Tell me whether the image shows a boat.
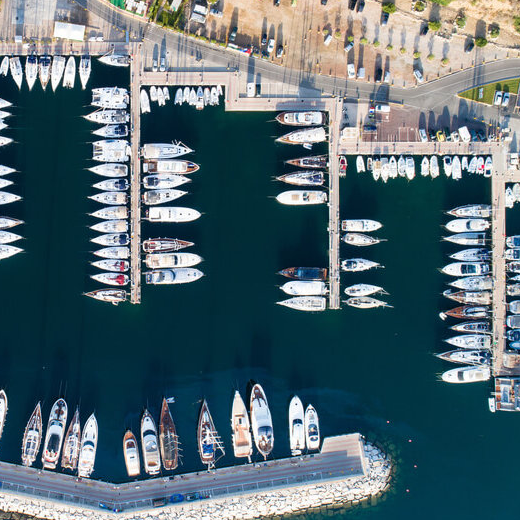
Yes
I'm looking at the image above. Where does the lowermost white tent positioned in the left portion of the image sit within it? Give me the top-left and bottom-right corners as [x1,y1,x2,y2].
[52,21,86,44]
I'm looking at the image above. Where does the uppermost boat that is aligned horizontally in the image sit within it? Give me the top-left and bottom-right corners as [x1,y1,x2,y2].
[97,51,129,67]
